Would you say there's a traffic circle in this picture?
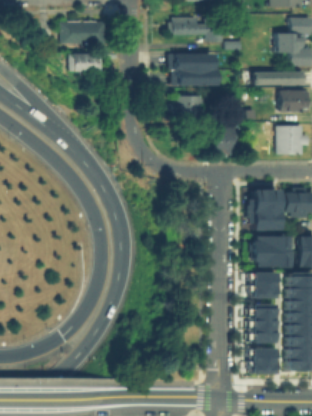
No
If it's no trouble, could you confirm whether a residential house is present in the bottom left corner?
No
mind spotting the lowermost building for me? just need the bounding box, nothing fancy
[244,349,280,374]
